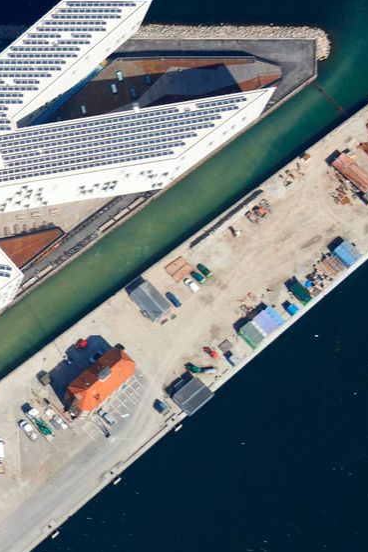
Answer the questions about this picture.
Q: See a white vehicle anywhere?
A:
Yes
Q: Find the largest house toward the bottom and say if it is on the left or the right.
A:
left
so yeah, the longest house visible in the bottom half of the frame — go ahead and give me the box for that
[56,349,139,425]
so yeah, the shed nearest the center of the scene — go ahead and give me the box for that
[128,279,170,323]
